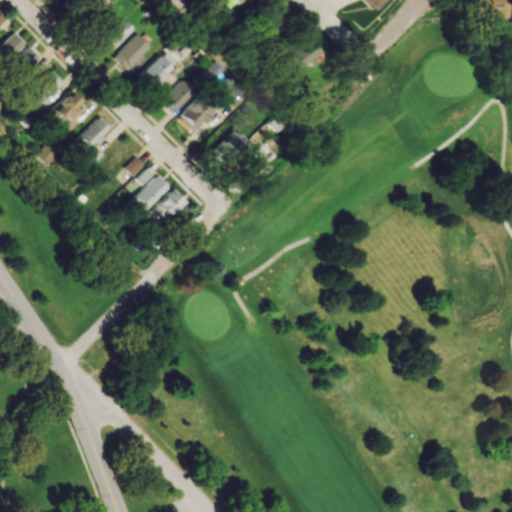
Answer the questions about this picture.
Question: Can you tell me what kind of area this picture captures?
golf course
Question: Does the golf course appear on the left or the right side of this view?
right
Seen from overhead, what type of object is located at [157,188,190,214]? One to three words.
house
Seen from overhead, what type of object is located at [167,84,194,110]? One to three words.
house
